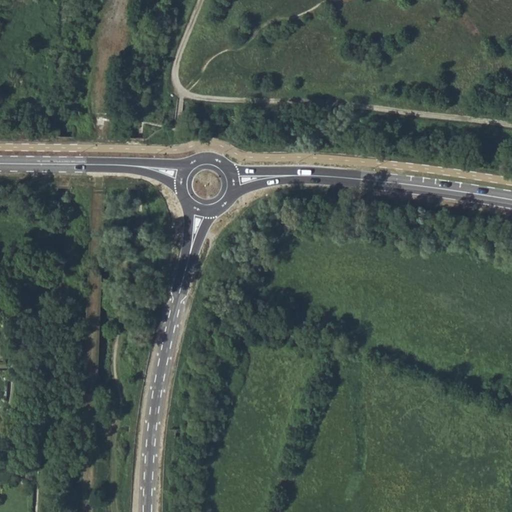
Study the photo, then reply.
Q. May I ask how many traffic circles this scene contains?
1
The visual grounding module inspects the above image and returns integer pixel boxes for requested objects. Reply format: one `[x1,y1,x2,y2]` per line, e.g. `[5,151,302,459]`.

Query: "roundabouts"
[86,152,362,292]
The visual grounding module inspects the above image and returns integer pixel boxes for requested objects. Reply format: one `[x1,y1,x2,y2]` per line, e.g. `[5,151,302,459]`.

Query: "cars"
[75,165,85,170]
[245,168,254,174]
[477,189,488,194]
[268,179,278,184]
[440,182,450,187]
[311,178,321,183]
